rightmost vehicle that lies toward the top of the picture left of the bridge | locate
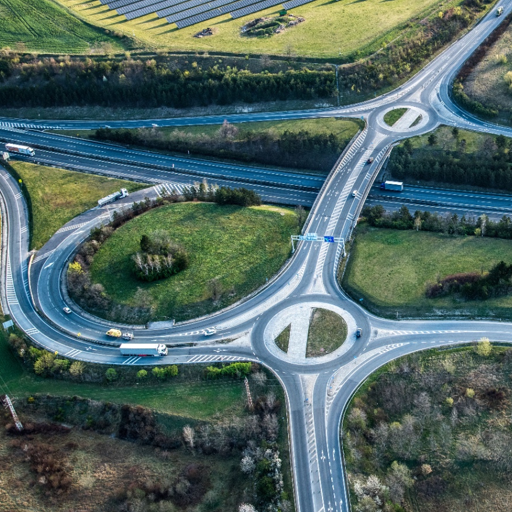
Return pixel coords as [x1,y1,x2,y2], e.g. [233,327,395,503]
[95,186,130,206]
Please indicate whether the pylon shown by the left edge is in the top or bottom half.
bottom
